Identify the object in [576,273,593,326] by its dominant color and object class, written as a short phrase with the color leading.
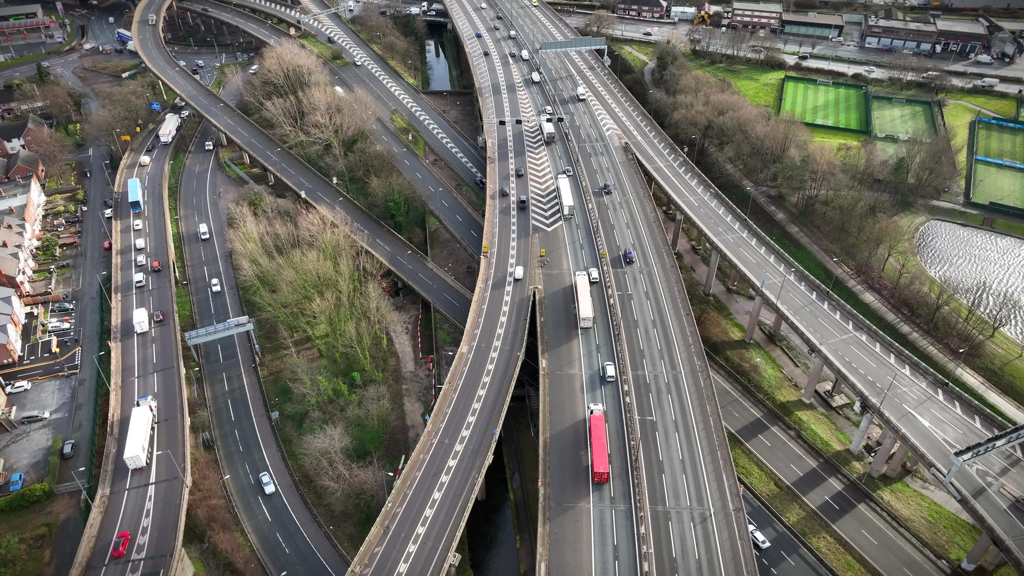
white vehicle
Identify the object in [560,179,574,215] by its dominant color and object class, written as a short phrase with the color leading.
white vehicle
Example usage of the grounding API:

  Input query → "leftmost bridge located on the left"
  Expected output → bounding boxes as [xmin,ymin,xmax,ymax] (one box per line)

[81,102,189,576]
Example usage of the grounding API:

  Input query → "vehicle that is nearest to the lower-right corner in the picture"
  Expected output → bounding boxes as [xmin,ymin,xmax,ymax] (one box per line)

[752,524,770,551]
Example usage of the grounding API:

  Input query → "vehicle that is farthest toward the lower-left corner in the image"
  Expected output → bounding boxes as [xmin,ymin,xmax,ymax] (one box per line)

[6,471,23,489]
